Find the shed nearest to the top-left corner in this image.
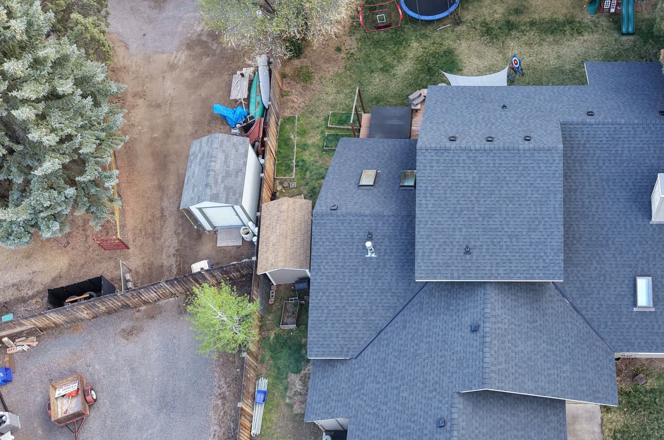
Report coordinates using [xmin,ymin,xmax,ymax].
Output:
[184,133,261,231]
